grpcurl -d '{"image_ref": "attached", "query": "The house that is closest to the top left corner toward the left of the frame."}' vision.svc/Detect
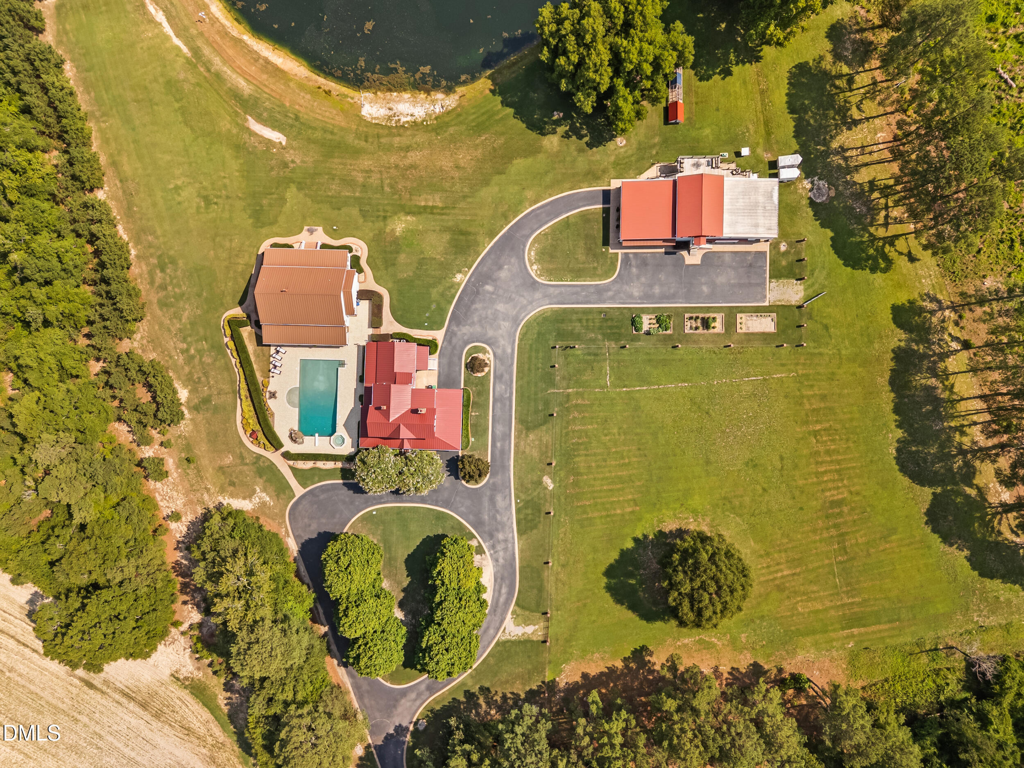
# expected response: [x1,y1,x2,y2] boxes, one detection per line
[254,248,360,346]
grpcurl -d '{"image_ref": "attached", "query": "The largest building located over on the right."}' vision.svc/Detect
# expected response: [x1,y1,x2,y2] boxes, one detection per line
[619,173,778,248]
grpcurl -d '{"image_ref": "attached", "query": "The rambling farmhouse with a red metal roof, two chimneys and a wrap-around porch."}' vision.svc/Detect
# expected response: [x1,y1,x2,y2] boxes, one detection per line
[359,342,463,451]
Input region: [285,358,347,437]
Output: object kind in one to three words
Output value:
swimming pool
